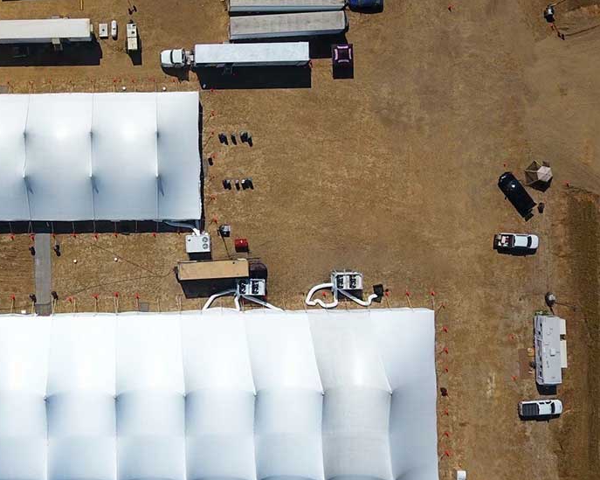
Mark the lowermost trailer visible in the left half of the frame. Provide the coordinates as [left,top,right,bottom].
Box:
[178,258,249,280]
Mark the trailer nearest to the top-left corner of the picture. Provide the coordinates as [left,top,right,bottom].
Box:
[0,18,94,55]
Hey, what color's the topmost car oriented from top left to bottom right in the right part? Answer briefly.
black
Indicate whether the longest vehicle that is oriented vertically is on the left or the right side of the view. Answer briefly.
right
